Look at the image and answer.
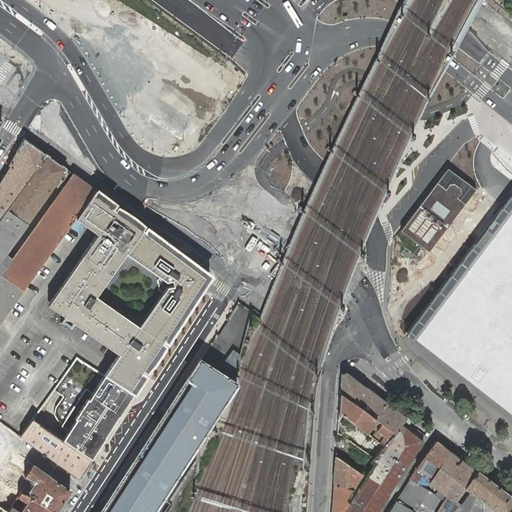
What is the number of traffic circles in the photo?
0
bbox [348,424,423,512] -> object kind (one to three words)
house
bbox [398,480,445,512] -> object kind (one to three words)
building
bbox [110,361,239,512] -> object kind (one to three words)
shed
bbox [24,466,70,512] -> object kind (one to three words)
house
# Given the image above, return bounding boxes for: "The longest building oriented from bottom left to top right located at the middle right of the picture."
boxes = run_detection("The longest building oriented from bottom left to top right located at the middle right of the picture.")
[402,168,476,252]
